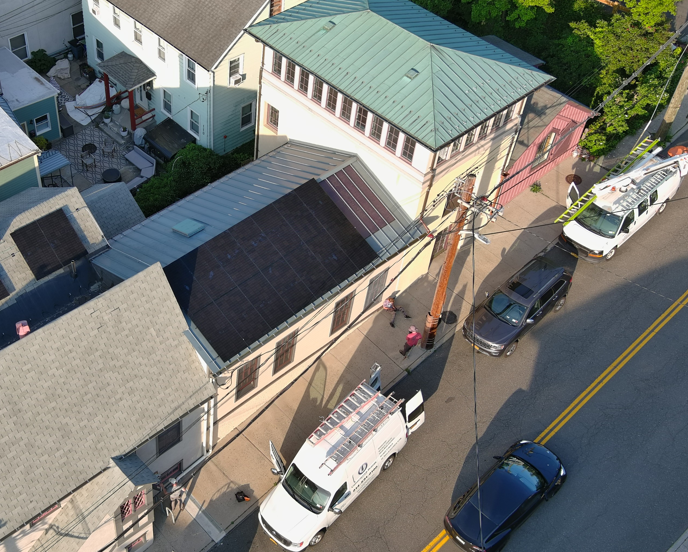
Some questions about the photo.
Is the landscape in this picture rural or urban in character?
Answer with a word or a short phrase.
urban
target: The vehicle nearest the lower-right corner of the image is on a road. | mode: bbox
[440,435,570,552]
